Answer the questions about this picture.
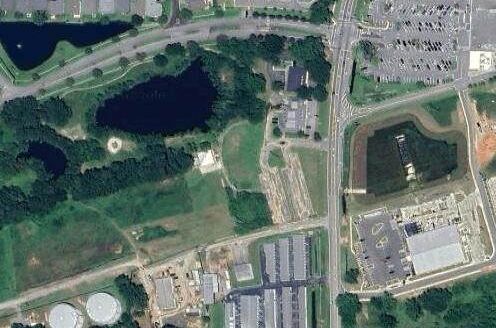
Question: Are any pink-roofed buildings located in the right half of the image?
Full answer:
No, no pink-roofed building appears in the right half of the image.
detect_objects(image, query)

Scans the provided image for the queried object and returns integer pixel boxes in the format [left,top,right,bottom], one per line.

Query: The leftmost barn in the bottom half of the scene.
[156,277,176,309]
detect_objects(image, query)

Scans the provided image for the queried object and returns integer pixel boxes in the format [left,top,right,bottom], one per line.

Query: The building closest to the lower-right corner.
[406,225,468,274]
